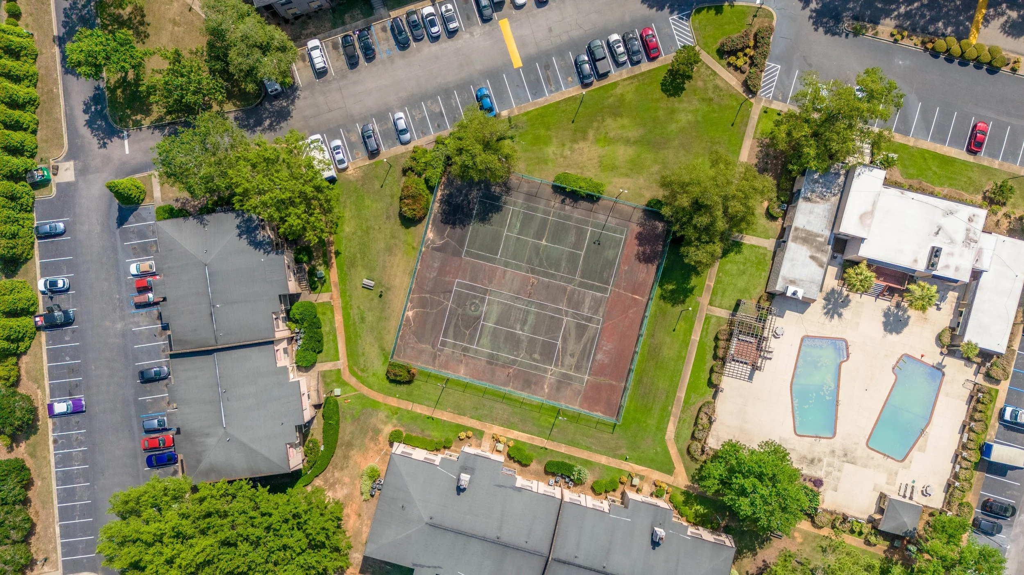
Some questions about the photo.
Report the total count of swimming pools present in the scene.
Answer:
2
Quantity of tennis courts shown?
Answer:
1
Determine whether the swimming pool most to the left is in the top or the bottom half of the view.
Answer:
bottom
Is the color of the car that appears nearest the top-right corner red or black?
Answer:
red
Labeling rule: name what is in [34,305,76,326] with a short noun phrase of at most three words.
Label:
truck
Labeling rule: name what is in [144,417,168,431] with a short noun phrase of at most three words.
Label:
car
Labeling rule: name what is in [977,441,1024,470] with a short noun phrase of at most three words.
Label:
truck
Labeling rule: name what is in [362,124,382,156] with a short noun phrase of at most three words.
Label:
car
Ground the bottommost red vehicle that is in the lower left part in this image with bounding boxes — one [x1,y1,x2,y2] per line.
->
[142,434,175,450]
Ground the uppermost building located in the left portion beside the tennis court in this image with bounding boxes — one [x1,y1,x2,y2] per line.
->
[153,214,320,484]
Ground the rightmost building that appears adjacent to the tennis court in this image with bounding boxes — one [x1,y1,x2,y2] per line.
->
[766,164,1024,354]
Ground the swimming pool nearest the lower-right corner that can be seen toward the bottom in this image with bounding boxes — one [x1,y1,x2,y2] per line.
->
[867,354,946,463]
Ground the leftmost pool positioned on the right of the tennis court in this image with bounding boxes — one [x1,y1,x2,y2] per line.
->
[791,336,849,441]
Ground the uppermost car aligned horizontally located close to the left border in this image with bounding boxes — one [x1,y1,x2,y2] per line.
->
[36,222,69,237]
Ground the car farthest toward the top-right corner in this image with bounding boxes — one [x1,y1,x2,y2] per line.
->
[966,121,987,153]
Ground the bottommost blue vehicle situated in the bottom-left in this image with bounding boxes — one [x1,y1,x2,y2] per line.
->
[149,452,178,468]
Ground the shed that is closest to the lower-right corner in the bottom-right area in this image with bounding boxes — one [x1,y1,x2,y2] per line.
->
[863,492,922,539]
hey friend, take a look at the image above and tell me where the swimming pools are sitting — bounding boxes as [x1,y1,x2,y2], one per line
[867,354,946,463]
[791,336,849,441]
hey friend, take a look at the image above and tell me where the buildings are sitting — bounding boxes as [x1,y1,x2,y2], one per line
[271,0,333,19]
[364,442,737,575]
[863,492,922,539]
[153,214,320,484]
[766,164,1024,354]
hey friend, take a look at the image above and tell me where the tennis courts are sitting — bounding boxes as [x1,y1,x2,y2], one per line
[395,162,668,418]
